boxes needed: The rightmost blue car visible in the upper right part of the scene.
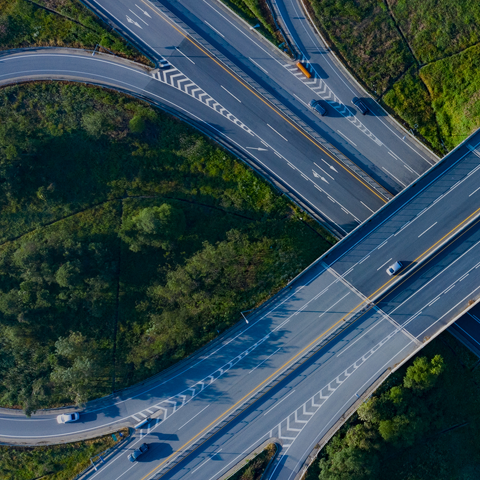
[351,95,370,118]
